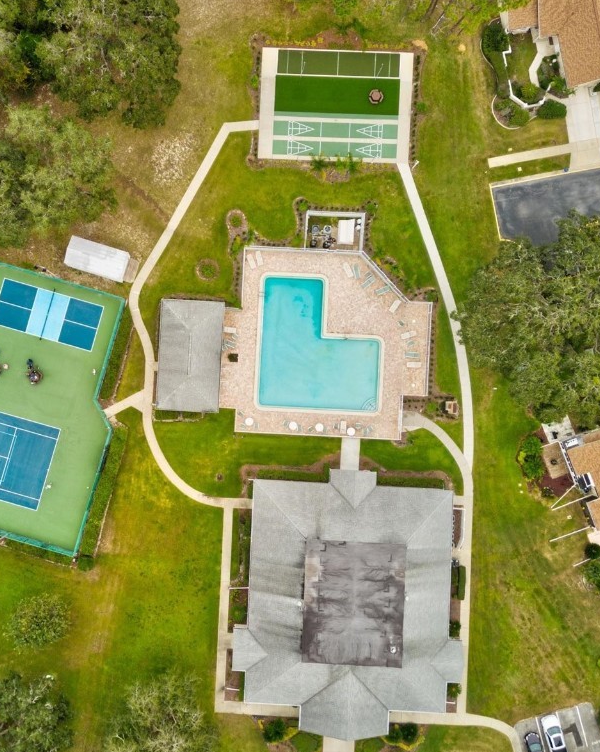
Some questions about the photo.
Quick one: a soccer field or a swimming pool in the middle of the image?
swimming pool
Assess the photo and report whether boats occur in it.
No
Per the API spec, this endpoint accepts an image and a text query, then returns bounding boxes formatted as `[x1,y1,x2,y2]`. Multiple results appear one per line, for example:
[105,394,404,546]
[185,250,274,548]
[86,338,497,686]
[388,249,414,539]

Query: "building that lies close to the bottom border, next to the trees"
[231,468,465,741]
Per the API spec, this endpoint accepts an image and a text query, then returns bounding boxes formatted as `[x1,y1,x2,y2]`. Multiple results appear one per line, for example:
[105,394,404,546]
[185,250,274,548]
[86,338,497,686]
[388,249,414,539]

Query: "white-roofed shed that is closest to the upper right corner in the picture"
[338,220,354,245]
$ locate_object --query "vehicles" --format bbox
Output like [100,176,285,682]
[524,732,544,752]
[540,713,567,752]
